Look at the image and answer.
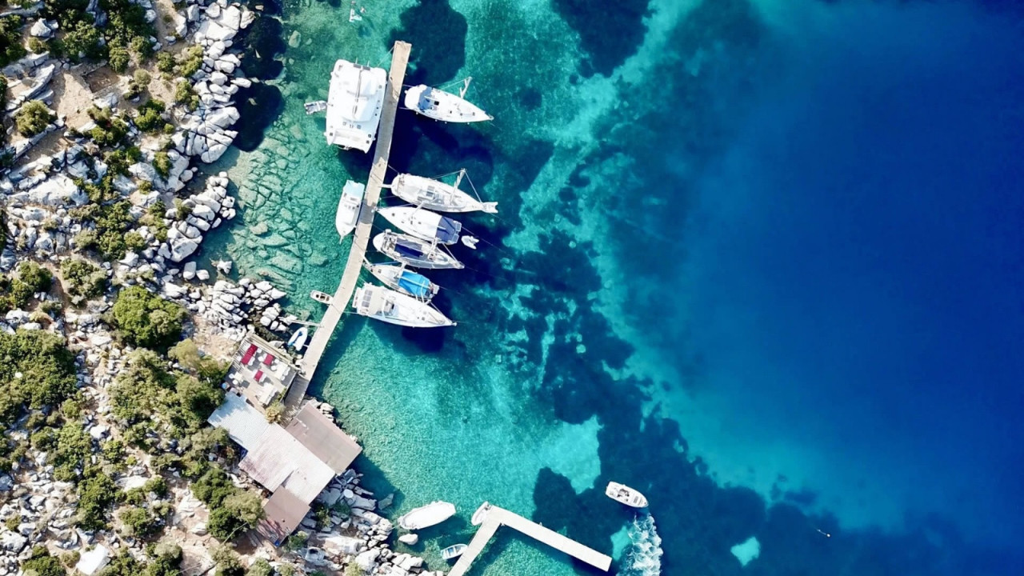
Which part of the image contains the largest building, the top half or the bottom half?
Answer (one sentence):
Seen from above, the largest building lies in the bottom half of the view.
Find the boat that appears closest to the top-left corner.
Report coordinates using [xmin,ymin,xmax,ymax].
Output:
[304,100,327,113]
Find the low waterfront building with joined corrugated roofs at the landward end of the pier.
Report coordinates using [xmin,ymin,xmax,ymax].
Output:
[208,392,361,547]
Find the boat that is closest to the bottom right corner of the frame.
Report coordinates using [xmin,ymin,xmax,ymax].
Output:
[604,483,646,508]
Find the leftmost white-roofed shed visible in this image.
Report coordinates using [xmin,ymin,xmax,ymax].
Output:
[76,543,109,575]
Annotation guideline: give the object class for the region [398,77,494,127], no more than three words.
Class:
boat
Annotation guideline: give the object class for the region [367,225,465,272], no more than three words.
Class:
boat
